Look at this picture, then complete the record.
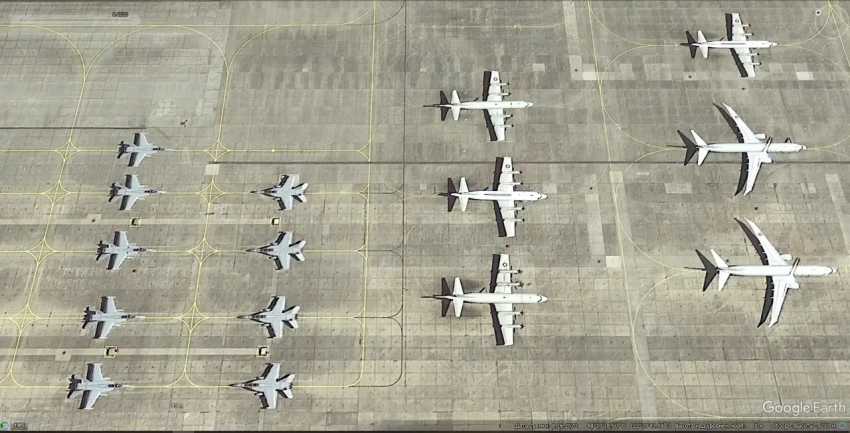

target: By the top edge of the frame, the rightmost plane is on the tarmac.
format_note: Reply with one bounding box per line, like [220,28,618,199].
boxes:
[683,12,777,76]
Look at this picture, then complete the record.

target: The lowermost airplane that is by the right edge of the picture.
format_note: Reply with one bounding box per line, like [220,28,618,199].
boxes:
[714,217,836,327]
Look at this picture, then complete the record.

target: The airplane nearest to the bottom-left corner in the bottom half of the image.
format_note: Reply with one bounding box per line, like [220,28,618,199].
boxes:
[71,364,135,409]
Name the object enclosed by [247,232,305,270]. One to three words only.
airplane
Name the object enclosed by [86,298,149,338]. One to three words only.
airplane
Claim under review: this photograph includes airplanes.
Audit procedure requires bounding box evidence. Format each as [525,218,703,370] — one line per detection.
[86,298,149,338]
[683,12,777,76]
[239,297,300,338]
[120,134,176,167]
[434,253,547,345]
[441,157,547,236]
[435,70,533,140]
[111,175,169,210]
[714,217,836,327]
[694,103,806,195]
[100,232,159,270]
[247,232,305,270]
[252,175,308,210]
[71,364,135,409]
[230,364,295,409]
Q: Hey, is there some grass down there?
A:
No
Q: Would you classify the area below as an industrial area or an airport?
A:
airport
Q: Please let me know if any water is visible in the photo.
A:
No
